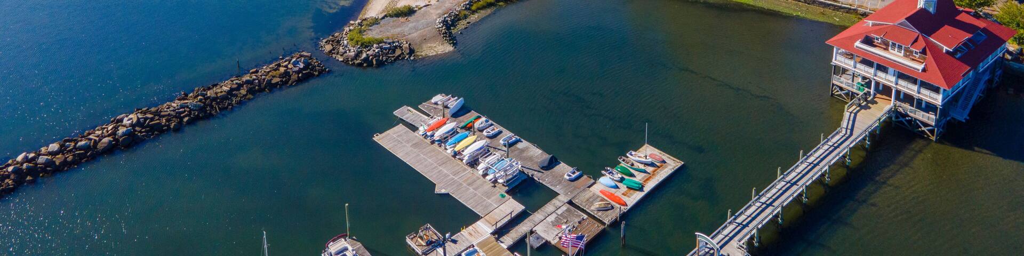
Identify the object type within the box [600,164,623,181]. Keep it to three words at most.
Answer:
boat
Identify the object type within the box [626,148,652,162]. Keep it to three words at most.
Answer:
boat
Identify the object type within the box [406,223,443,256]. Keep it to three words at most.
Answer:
pier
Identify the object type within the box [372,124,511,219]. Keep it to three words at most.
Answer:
pier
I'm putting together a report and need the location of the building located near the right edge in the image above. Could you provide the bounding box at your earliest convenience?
[825,0,1017,142]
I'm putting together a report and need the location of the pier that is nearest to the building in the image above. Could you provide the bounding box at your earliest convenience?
[684,84,904,256]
